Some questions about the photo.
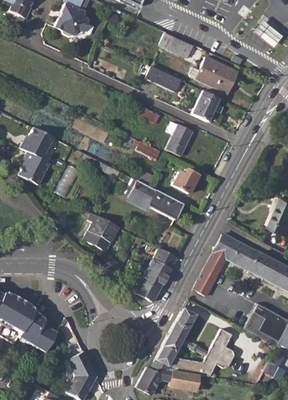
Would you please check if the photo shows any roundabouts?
Yes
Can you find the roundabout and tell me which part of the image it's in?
bottom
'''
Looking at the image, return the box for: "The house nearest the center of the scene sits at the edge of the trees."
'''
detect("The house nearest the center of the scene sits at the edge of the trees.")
[126,178,184,220]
